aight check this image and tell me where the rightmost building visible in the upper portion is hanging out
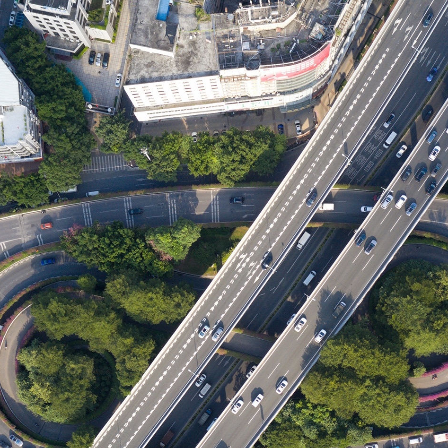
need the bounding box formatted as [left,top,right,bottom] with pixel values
[125,0,364,121]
